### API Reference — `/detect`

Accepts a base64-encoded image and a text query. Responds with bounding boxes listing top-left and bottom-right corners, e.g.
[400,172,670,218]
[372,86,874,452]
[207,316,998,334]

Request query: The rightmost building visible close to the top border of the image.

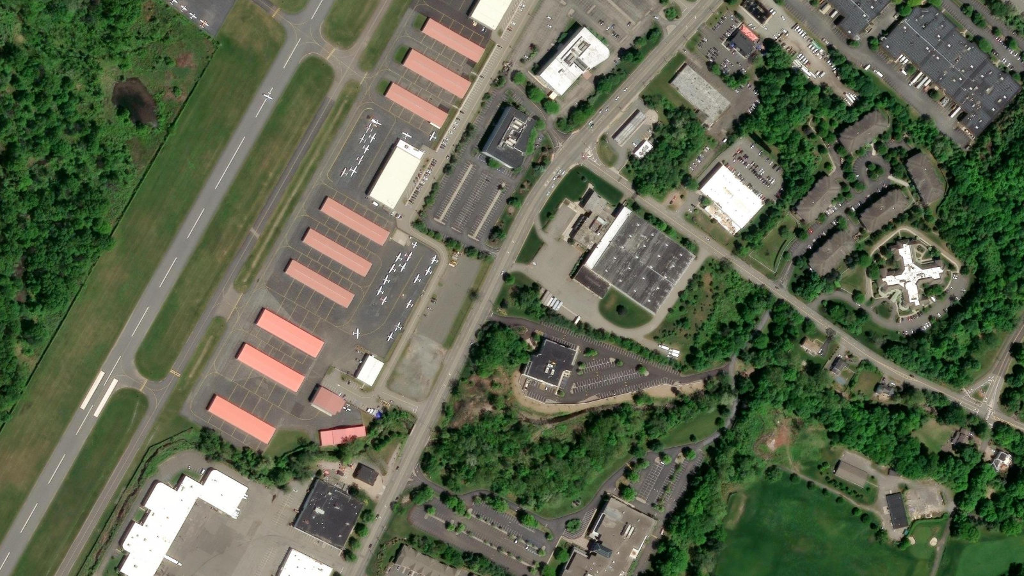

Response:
[877,5,1022,138]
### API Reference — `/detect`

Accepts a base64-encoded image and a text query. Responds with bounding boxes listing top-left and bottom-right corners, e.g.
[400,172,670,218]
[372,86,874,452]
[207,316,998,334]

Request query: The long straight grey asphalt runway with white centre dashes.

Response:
[0,0,333,576]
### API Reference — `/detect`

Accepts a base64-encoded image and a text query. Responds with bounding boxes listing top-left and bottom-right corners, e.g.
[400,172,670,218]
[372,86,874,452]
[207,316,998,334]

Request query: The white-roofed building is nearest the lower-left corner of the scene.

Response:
[116,469,248,576]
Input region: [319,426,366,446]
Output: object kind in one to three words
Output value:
shed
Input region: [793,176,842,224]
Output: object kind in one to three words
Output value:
house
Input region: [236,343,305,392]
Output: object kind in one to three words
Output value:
hangar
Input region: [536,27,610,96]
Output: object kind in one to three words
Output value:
building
